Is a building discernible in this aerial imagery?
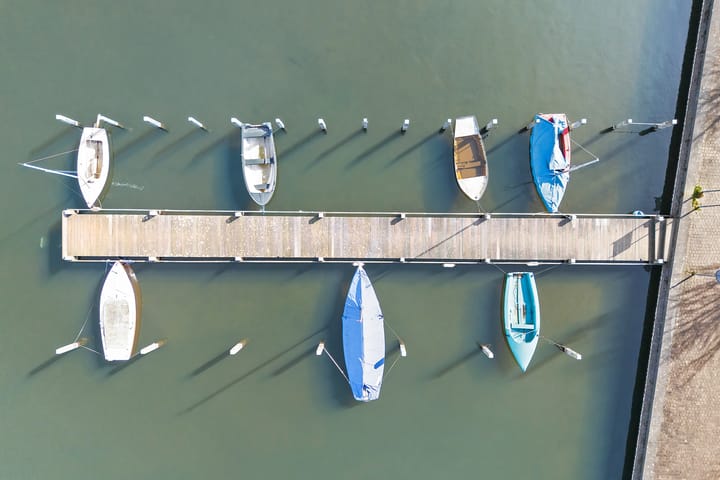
No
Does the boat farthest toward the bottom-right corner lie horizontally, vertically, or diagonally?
vertically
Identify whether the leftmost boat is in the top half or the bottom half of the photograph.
top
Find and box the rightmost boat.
[530,113,602,213]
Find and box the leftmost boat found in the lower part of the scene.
[98,261,139,363]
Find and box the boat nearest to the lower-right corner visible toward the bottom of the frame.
[503,272,540,373]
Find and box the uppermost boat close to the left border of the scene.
[20,113,112,209]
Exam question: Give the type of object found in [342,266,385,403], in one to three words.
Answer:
boat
